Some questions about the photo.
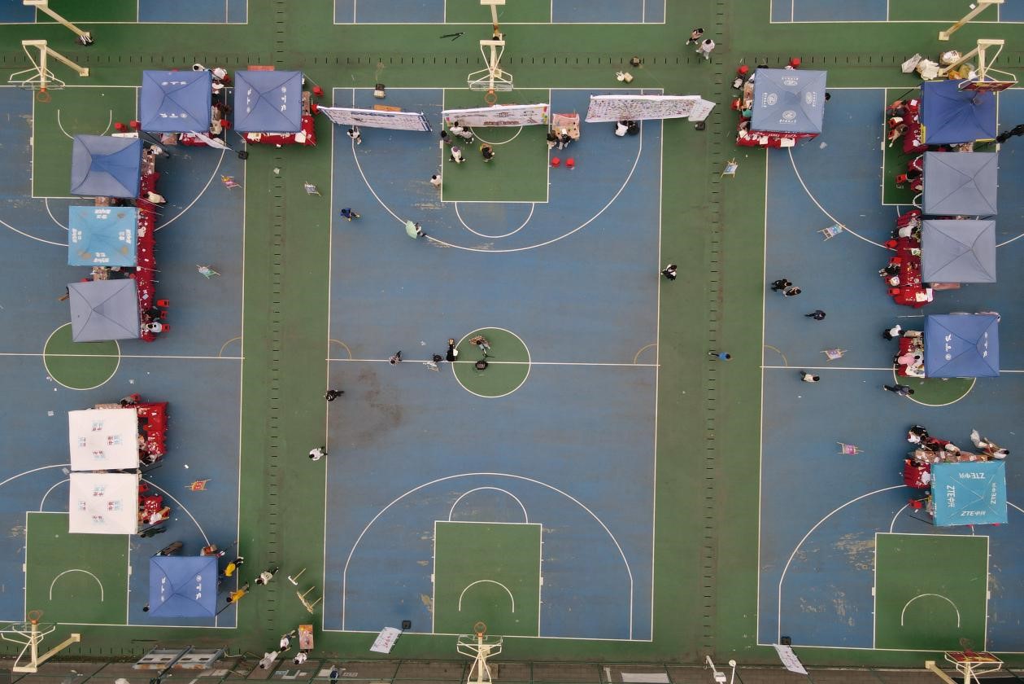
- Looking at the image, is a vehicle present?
No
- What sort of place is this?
sports ground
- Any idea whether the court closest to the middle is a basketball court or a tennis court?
basketball court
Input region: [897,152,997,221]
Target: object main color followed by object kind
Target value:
gray tent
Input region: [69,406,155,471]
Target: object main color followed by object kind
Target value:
white tent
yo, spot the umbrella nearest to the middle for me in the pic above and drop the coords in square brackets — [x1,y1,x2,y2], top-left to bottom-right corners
[404,217,419,243]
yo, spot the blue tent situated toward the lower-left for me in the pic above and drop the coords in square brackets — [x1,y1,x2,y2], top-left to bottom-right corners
[149,542,239,616]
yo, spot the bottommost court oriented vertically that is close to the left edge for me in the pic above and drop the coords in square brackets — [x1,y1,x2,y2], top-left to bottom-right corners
[0,86,247,627]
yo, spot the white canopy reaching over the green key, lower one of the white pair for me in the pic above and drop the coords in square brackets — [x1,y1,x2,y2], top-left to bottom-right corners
[69,465,164,534]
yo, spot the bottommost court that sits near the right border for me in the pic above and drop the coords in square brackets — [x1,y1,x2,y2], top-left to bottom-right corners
[756,90,1024,654]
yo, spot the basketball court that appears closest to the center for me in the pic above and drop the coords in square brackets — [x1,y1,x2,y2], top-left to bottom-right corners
[323,80,663,642]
